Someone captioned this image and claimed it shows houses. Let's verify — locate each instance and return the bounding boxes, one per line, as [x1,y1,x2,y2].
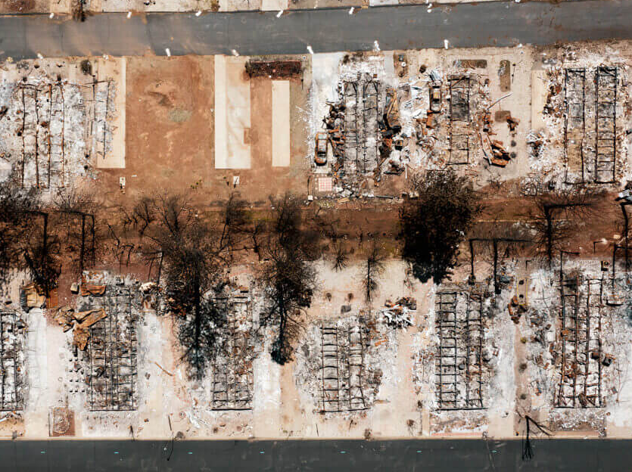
[434,292,485,410]
[88,306,141,413]
[0,311,27,419]
[208,299,255,410]
[11,83,67,187]
[441,77,473,173]
[341,66,382,187]
[313,319,367,413]
[556,279,610,409]
[554,67,619,184]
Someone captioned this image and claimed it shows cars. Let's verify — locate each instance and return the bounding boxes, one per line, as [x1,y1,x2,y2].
[315,132,329,165]
[429,83,444,113]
